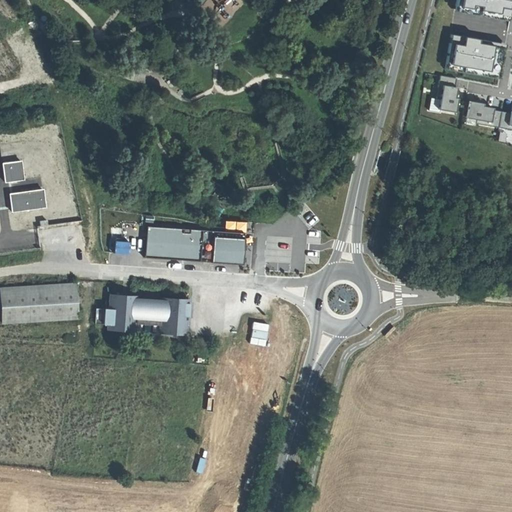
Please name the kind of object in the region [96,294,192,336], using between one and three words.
house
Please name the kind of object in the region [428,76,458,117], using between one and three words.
house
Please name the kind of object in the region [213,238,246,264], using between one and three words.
building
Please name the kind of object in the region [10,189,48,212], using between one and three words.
building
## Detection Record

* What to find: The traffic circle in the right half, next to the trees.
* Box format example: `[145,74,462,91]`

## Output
[284,215,418,368]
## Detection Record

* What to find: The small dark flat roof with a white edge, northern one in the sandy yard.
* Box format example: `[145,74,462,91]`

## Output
[2,161,26,184]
